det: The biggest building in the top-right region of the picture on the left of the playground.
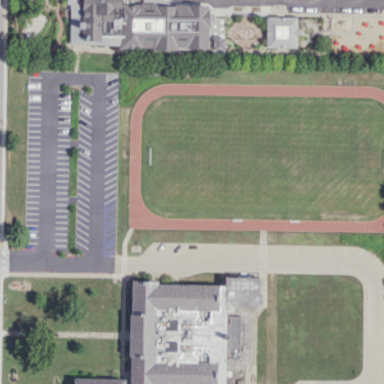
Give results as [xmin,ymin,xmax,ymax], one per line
[268,16,300,50]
